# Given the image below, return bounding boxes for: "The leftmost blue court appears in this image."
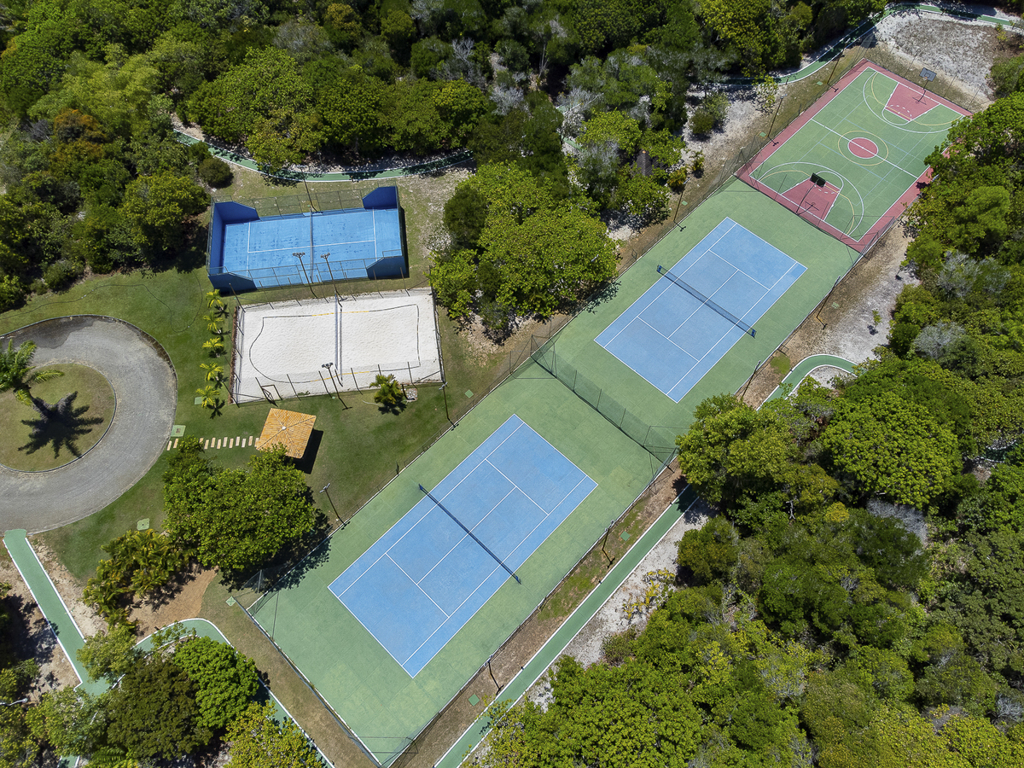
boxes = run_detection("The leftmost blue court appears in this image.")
[205,182,403,293]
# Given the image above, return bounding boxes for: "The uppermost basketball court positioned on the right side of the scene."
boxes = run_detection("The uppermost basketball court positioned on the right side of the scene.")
[734,57,979,252]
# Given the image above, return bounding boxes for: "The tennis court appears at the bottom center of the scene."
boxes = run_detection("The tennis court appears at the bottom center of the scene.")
[246,355,668,768]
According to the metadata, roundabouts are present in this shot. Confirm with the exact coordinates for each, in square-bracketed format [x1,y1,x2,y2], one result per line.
[0,313,178,536]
